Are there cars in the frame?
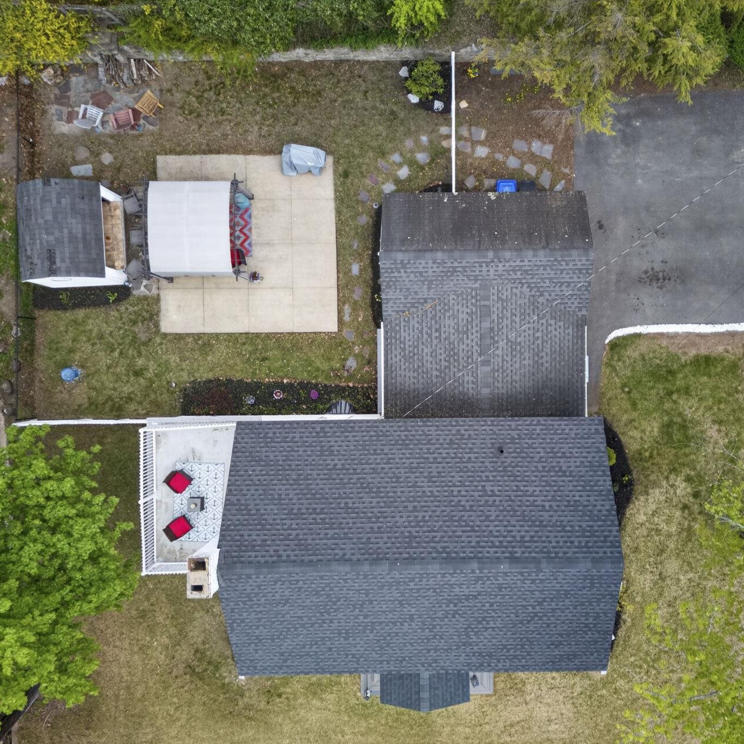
No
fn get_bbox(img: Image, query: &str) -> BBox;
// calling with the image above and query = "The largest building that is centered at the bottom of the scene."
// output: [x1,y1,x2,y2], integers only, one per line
[187,417,624,679]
